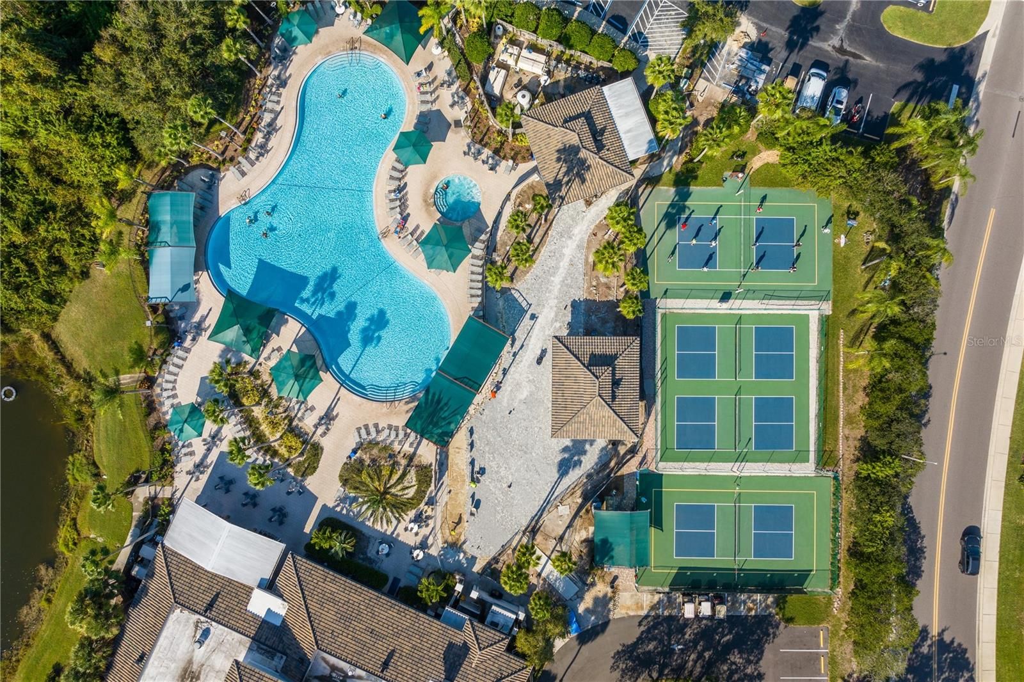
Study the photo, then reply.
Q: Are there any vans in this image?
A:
Yes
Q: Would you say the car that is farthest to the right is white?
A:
No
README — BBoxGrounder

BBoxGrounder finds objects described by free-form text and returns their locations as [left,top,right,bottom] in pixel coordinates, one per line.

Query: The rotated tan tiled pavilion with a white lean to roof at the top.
[520,76,659,210]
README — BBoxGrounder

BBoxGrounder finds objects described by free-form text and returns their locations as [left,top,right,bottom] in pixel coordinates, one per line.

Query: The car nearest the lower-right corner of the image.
[957,529,983,572]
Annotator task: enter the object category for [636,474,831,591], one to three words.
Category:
sports court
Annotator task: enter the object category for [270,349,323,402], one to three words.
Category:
umbrella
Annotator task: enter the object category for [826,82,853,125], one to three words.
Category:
car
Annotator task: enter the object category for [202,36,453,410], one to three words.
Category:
swimming pool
